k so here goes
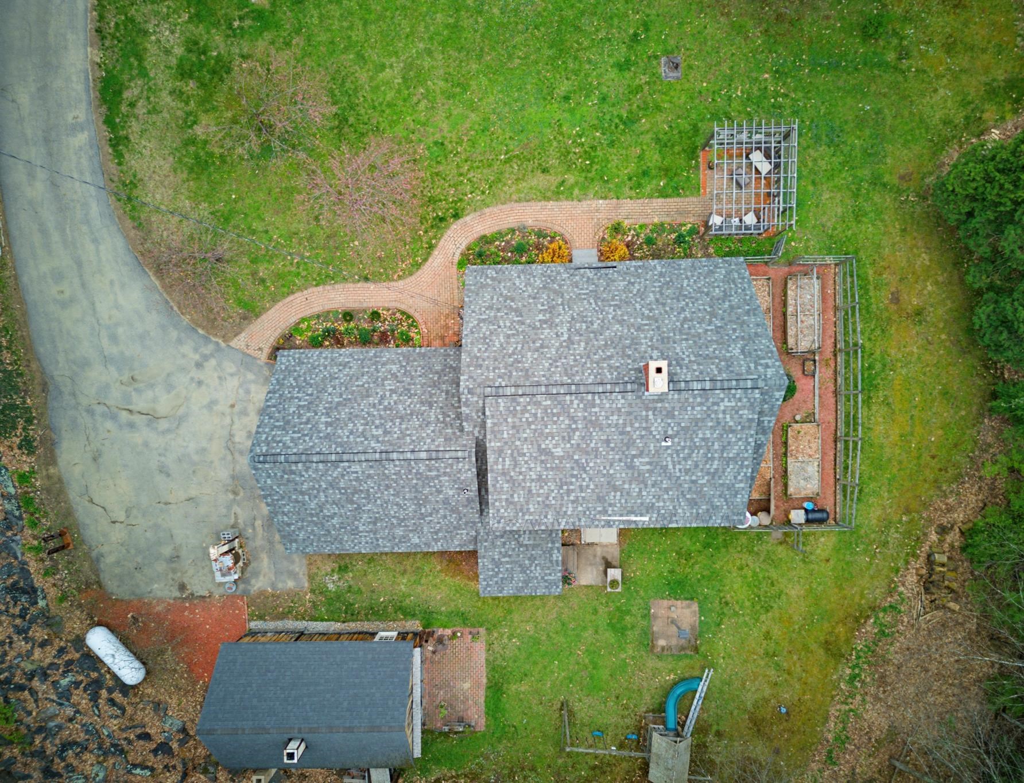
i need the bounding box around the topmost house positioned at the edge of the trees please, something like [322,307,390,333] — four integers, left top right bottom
[249,257,788,597]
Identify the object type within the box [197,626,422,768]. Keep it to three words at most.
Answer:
barn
